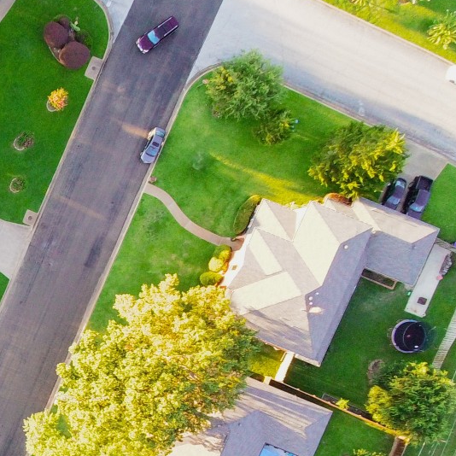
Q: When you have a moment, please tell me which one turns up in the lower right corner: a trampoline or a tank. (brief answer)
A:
trampoline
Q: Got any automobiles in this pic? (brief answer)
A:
Yes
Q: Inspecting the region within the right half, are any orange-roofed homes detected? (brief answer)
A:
No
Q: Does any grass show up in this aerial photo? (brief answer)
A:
Yes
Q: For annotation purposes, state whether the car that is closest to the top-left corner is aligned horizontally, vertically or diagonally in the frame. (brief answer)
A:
diagonally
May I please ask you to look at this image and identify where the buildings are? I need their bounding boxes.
[204,196,439,367]
[218,371,334,456]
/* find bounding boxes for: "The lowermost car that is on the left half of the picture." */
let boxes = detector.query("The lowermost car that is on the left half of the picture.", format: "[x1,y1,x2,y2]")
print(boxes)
[139,125,167,166]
